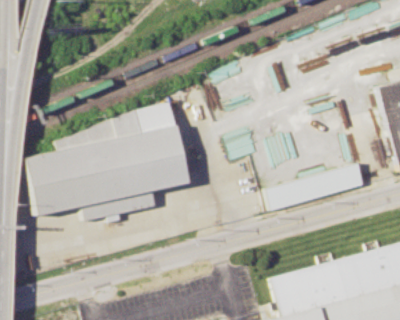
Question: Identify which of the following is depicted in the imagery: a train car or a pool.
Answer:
train car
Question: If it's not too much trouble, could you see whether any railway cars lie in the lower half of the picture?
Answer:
No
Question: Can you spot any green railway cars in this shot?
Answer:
Yes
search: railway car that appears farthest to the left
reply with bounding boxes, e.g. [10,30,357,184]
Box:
[40,95,75,114]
